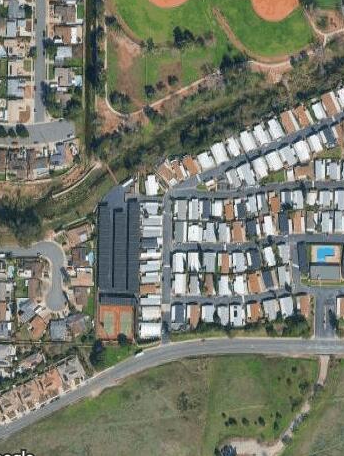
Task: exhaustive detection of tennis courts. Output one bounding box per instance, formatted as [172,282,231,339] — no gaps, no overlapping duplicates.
[99,306,117,340]
[117,306,134,340]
